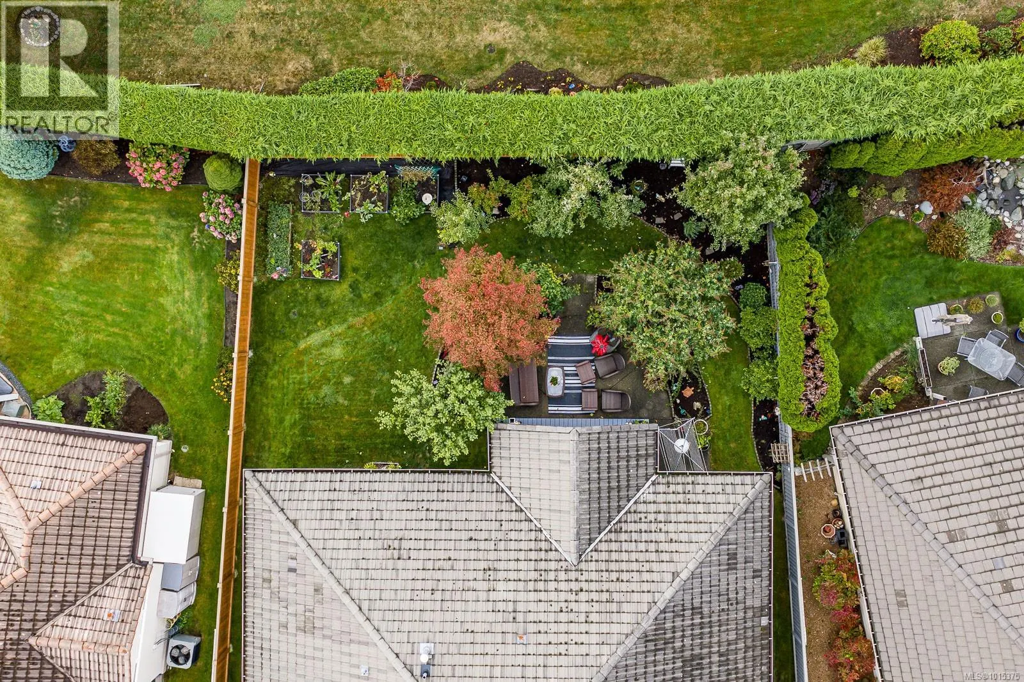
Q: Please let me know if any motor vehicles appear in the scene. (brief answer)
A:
No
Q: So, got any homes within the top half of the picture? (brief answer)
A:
No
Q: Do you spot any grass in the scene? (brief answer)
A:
Yes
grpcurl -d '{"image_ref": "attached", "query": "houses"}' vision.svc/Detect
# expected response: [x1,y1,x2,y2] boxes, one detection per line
[0,416,169,682]
[826,387,1024,682]
[242,424,774,682]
